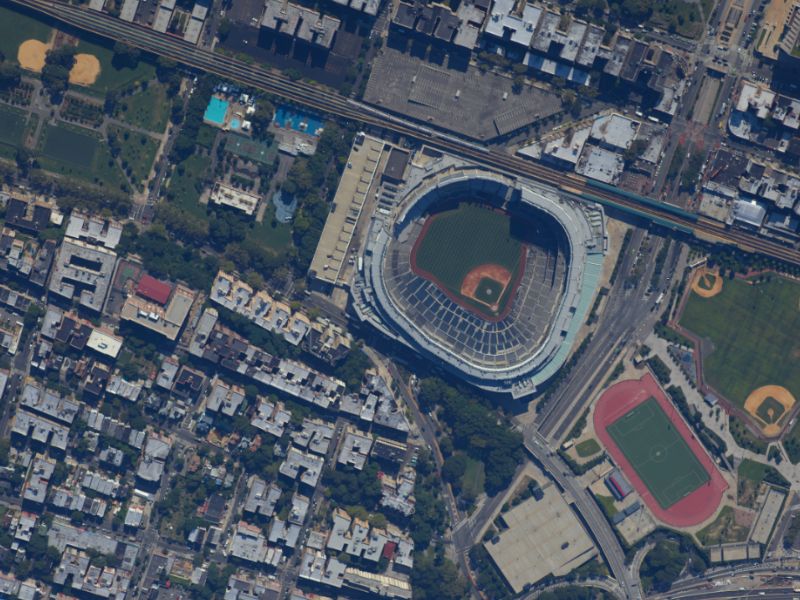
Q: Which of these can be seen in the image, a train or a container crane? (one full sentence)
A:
Looking from above, you can make out a train.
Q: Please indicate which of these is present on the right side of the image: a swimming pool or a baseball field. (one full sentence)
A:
Visible on the right side of the image is a baseball field.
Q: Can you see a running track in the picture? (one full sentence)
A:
Yes, there is a running track in the image.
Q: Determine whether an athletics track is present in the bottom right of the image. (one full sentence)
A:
Yes, there is an athletics track in the bottom right of the image.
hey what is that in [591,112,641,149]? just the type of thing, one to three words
building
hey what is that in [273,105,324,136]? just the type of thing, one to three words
swimming pool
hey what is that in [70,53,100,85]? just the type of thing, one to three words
baseball field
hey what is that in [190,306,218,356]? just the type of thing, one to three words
building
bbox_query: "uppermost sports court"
[224,135,278,162]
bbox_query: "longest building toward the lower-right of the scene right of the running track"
[751,488,786,545]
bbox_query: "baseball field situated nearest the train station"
[692,267,723,298]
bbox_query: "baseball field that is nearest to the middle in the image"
[411,202,526,322]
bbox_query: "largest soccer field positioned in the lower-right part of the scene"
[608,397,710,509]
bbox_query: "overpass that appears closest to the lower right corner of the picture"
[513,427,630,600]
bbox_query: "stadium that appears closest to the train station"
[350,144,604,398]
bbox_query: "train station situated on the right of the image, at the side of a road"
[559,166,759,252]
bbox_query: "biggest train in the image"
[346,99,491,152]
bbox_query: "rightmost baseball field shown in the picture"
[744,385,797,438]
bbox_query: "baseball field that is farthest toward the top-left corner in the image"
[18,39,48,73]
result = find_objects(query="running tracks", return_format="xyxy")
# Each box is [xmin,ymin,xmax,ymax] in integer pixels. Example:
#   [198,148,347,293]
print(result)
[594,373,729,518]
